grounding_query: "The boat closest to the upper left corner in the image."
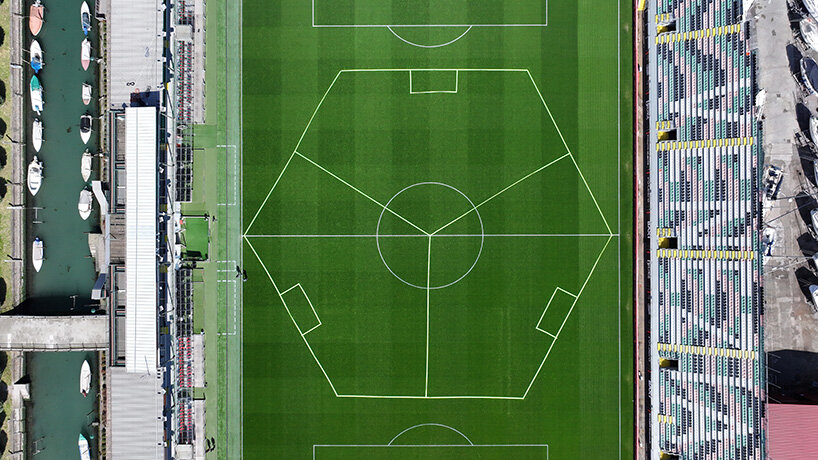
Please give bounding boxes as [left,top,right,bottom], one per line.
[30,2,44,38]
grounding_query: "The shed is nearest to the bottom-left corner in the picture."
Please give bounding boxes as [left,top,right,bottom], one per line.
[92,272,109,299]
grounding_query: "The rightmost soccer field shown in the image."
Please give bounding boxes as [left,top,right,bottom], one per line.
[240,0,632,460]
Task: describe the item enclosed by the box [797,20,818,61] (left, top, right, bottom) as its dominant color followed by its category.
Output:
white boat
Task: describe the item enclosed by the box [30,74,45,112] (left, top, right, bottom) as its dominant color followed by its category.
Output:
white boat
